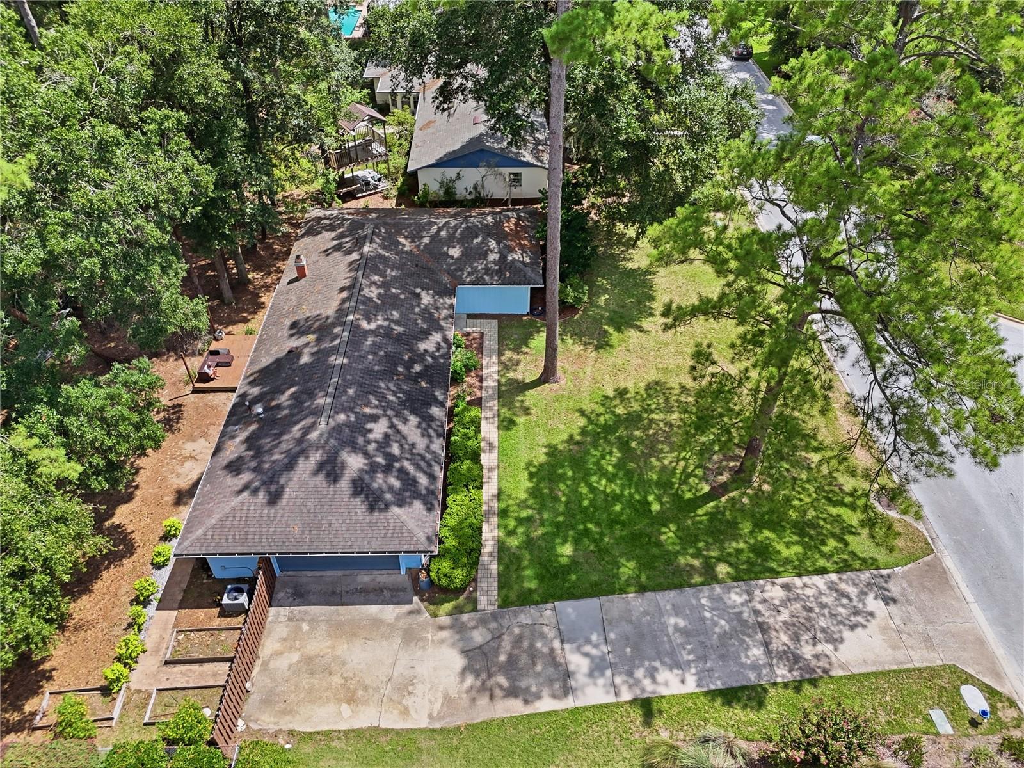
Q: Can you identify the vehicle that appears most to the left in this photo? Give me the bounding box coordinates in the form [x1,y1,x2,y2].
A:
[722,34,750,56]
